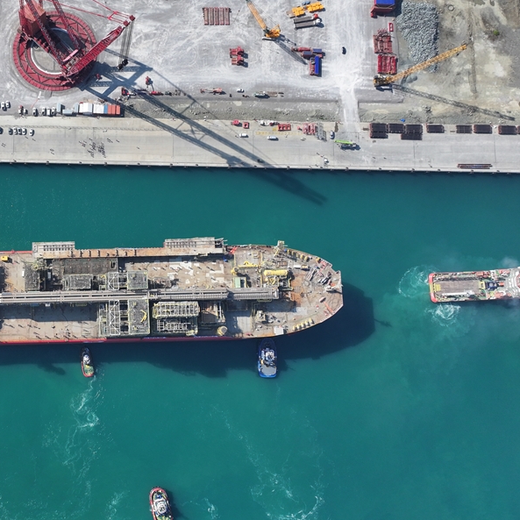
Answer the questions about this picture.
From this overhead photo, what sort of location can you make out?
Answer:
port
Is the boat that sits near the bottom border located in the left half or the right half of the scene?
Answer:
left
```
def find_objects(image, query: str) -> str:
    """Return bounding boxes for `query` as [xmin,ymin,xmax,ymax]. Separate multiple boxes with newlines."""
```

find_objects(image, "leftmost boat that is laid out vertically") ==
[79,345,96,379]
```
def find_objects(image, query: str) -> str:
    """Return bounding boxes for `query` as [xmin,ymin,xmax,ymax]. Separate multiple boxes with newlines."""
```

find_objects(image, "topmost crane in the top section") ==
[234,0,290,38]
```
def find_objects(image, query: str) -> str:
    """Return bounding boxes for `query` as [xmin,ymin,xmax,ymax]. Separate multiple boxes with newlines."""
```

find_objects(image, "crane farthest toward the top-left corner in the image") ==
[12,0,138,90]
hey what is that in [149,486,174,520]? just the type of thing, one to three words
boat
